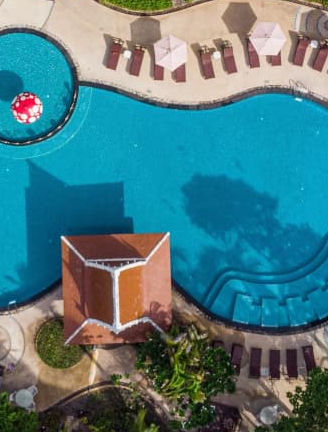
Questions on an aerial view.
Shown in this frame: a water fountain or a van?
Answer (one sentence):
Of the two, only a water fountain appears.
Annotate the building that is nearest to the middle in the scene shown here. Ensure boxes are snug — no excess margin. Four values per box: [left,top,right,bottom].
[59,229,174,346]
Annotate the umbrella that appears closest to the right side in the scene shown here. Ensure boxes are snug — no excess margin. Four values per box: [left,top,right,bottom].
[248,22,284,54]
